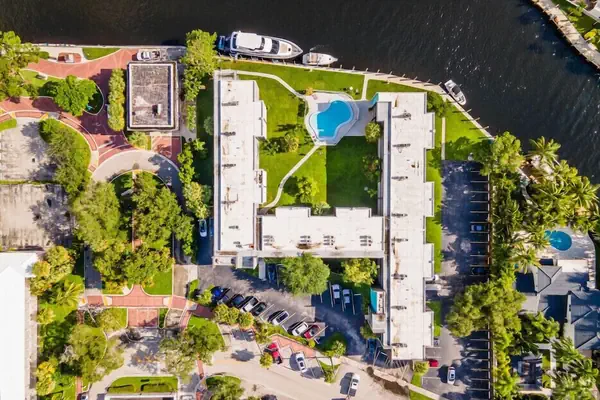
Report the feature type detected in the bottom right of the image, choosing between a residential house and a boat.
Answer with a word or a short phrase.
residential house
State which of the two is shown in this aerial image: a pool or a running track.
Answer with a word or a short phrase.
pool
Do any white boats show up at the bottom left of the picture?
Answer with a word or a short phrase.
No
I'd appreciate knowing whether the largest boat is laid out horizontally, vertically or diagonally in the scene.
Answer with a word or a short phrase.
horizontally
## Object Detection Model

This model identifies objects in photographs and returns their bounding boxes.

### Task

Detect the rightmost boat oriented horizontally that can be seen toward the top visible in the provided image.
[301,54,337,66]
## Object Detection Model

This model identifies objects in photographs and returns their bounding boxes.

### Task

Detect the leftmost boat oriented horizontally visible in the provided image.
[227,32,304,60]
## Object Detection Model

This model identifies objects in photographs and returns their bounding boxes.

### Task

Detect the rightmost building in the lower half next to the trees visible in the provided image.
[531,265,600,343]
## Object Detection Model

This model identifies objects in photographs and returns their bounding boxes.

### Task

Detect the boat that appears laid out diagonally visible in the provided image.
[442,79,462,104]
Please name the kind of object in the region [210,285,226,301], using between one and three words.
car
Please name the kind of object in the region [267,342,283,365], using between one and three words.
vehicle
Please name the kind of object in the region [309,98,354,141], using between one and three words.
swimming pool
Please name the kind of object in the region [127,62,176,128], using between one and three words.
house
